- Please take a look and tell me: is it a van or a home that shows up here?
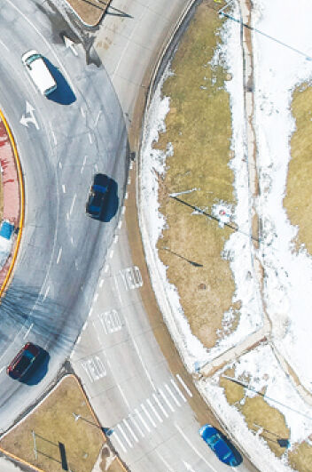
van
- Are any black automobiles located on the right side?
No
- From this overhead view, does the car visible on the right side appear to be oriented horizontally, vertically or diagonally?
diagonally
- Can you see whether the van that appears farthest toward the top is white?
Yes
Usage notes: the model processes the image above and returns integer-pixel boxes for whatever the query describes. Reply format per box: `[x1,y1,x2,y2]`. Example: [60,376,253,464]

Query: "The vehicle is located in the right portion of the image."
[202,425,239,468]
